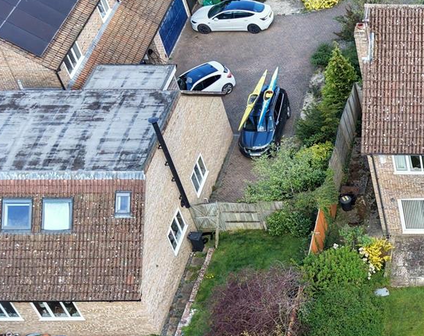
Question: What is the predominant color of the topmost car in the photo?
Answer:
white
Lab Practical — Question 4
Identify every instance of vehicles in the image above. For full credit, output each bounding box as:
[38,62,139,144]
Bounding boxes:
[234,82,299,161]
[163,53,248,96]
[188,0,279,36]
